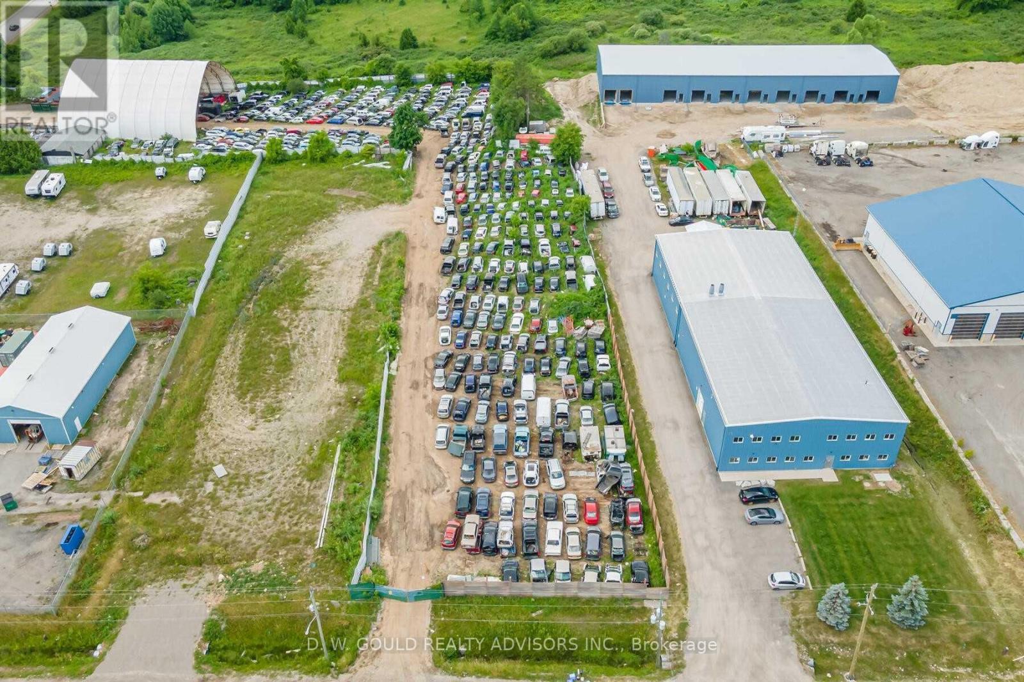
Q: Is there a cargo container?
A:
Yes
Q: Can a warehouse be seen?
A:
Yes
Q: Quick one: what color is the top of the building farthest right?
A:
blue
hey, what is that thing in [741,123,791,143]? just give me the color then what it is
white camper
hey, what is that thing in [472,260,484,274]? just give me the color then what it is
white vehicle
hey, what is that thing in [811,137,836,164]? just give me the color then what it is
white truck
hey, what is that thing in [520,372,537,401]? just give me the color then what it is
white vehicle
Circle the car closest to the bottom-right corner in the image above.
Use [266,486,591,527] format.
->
[765,572,808,592]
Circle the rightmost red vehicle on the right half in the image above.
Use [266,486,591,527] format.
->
[903,321,920,340]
